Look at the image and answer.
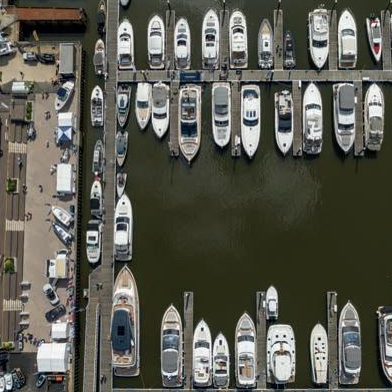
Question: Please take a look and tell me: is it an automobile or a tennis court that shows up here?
automobile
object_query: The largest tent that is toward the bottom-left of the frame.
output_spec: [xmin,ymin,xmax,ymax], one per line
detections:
[37,341,69,371]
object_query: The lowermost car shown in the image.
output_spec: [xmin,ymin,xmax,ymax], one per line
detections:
[45,303,68,321]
